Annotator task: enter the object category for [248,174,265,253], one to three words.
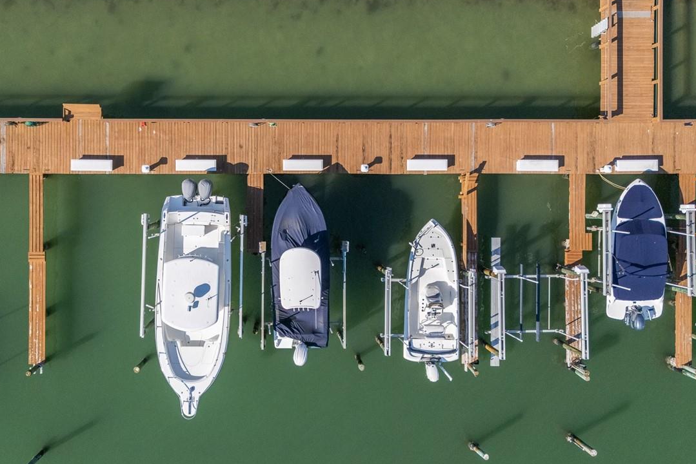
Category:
pier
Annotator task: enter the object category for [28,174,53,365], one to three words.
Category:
pier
